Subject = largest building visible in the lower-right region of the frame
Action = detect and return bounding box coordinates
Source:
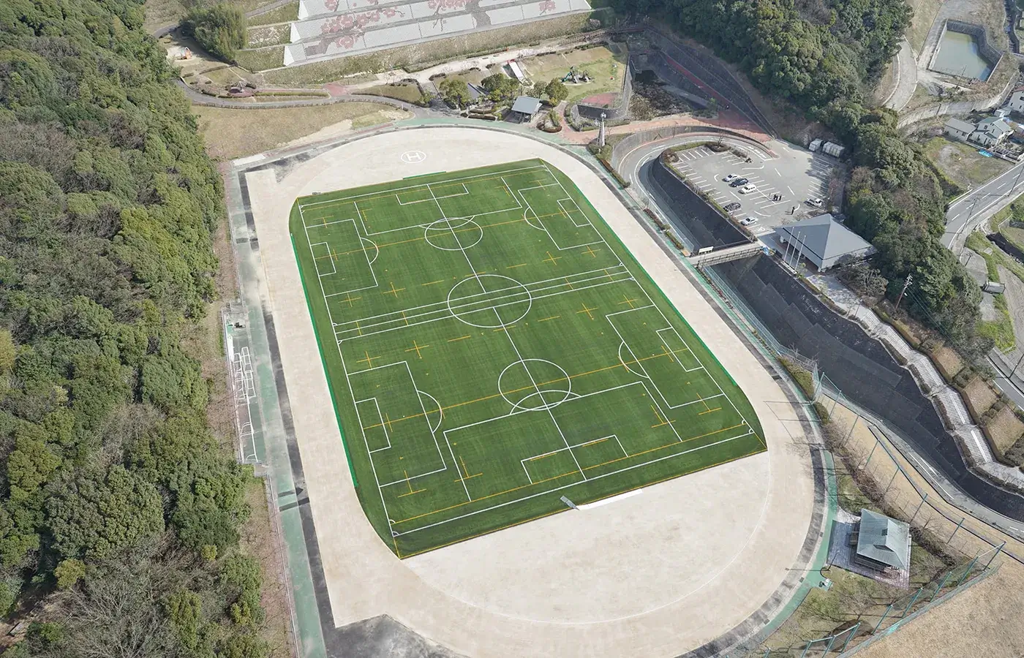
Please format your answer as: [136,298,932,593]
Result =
[842,508,910,579]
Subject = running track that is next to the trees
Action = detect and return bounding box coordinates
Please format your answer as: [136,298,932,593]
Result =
[246,127,815,658]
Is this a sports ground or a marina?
sports ground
